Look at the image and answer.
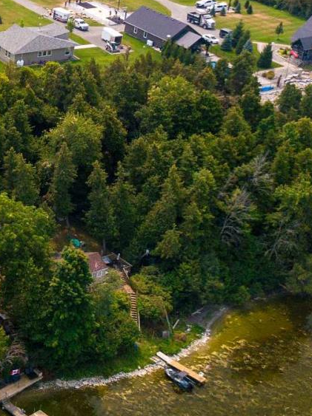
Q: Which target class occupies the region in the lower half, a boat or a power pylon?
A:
boat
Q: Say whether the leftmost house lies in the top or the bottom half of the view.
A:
top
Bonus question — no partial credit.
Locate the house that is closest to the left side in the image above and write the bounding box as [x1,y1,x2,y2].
[0,21,77,65]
